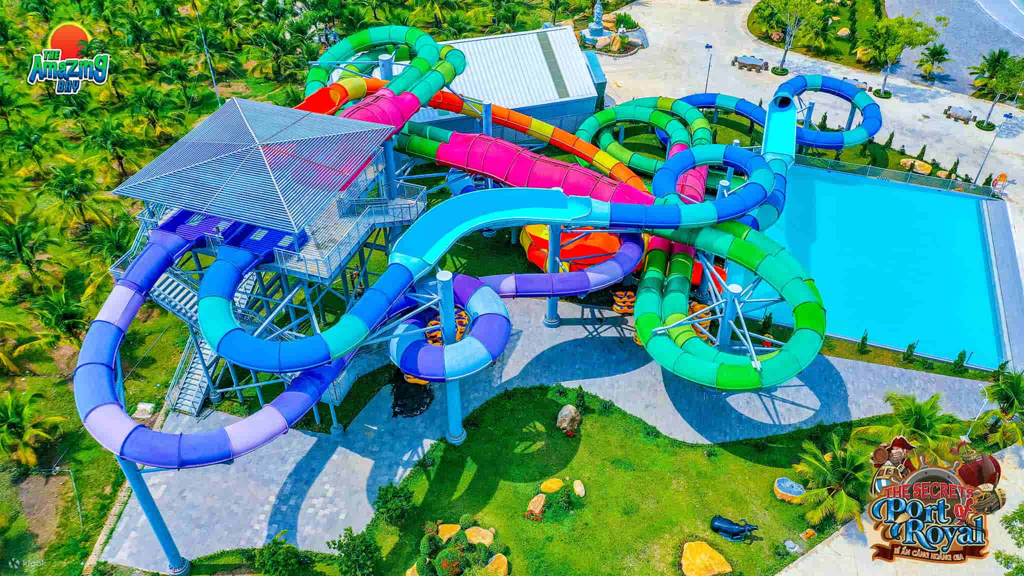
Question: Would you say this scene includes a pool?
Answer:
Yes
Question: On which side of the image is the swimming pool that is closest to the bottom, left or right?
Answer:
right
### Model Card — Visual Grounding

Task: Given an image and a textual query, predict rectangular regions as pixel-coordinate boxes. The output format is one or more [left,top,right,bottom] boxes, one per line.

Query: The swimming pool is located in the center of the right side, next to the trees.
[761,162,1023,386]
